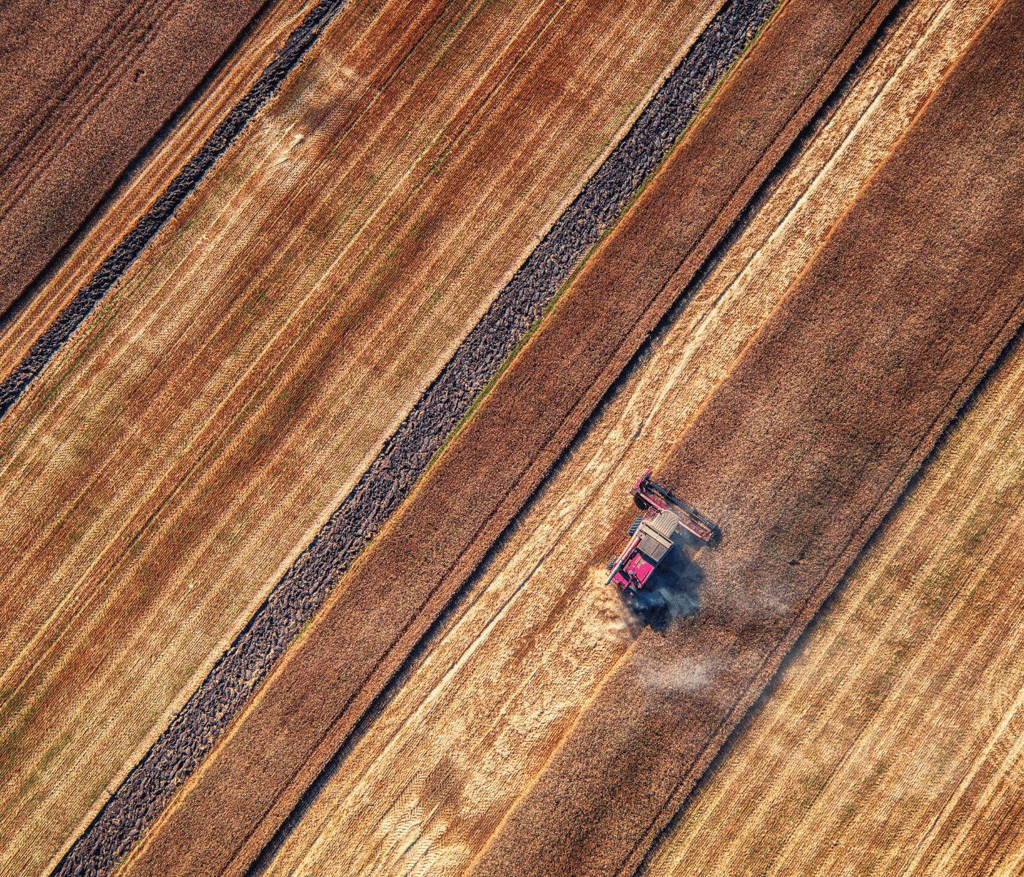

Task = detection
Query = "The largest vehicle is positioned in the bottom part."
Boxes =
[604,467,720,595]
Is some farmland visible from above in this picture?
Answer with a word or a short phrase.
Yes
